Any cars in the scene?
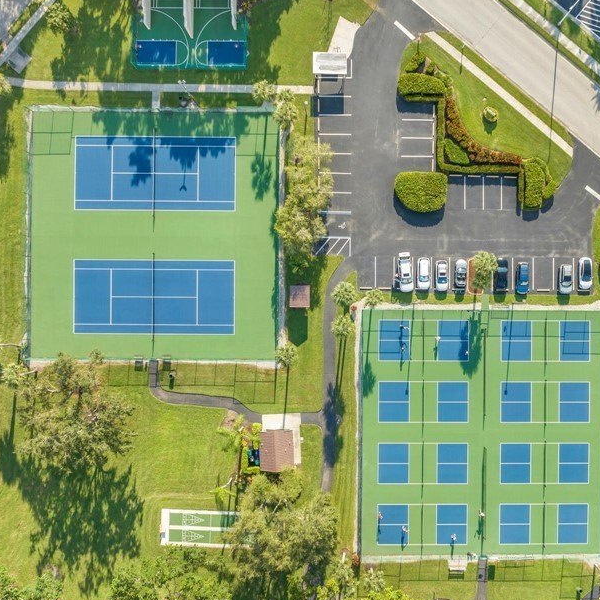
Yes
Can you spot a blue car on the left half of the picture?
No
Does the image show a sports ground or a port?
sports ground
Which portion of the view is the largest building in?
bottom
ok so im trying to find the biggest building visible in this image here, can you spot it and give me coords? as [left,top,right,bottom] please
[259,432,295,473]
